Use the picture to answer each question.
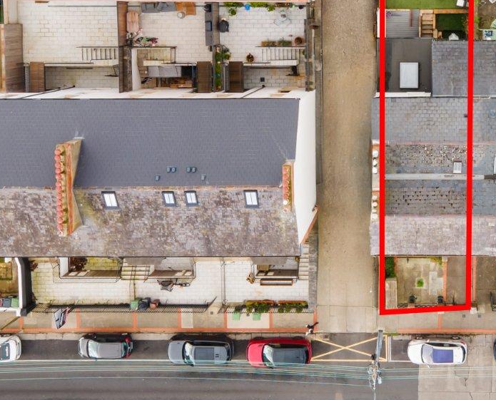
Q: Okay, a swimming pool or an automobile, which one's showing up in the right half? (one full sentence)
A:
There is an automobile in the right half.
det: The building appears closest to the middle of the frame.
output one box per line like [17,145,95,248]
[171,87,318,257]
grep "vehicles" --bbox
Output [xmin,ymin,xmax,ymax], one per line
[0,334,20,363]
[249,335,312,371]
[409,336,468,369]
[76,333,133,364]
[167,334,234,371]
